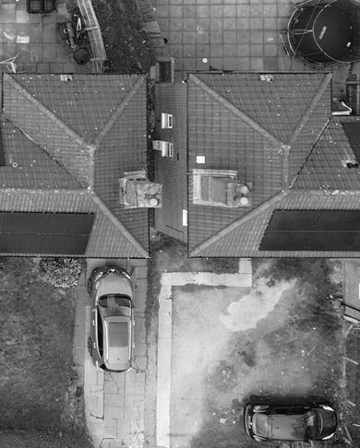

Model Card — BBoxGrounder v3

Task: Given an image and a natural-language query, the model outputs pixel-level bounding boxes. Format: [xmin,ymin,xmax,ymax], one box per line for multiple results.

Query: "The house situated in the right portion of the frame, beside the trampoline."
[150,70,360,259]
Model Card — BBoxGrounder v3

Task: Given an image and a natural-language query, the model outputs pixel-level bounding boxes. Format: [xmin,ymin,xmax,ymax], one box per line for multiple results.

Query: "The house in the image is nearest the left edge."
[0,70,159,259]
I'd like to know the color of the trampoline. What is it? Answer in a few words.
black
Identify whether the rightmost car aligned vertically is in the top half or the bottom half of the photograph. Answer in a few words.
bottom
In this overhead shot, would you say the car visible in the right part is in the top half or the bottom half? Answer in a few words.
bottom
